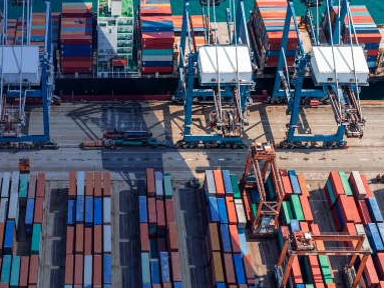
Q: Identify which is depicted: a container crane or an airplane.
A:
container crane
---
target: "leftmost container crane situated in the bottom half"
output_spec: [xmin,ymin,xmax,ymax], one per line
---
[245,148,283,233]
